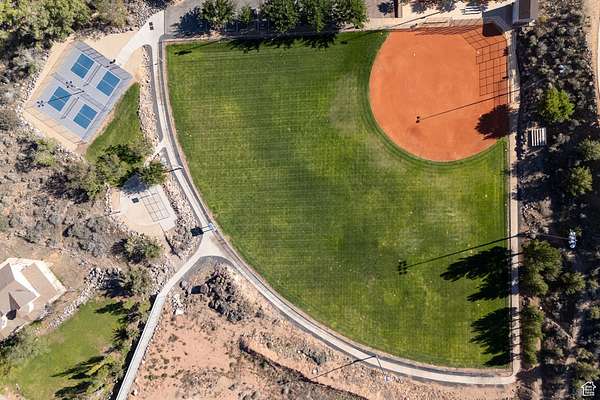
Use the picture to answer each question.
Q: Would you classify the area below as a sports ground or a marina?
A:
sports ground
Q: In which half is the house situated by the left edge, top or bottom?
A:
bottom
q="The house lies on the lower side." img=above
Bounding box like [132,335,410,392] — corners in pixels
[0,257,66,334]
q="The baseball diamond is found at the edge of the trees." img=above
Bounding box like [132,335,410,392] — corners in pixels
[167,29,508,367]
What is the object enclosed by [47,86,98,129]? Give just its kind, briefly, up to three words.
sports court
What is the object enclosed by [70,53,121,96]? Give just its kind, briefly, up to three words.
sports court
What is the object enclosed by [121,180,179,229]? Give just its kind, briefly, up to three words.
basketball court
